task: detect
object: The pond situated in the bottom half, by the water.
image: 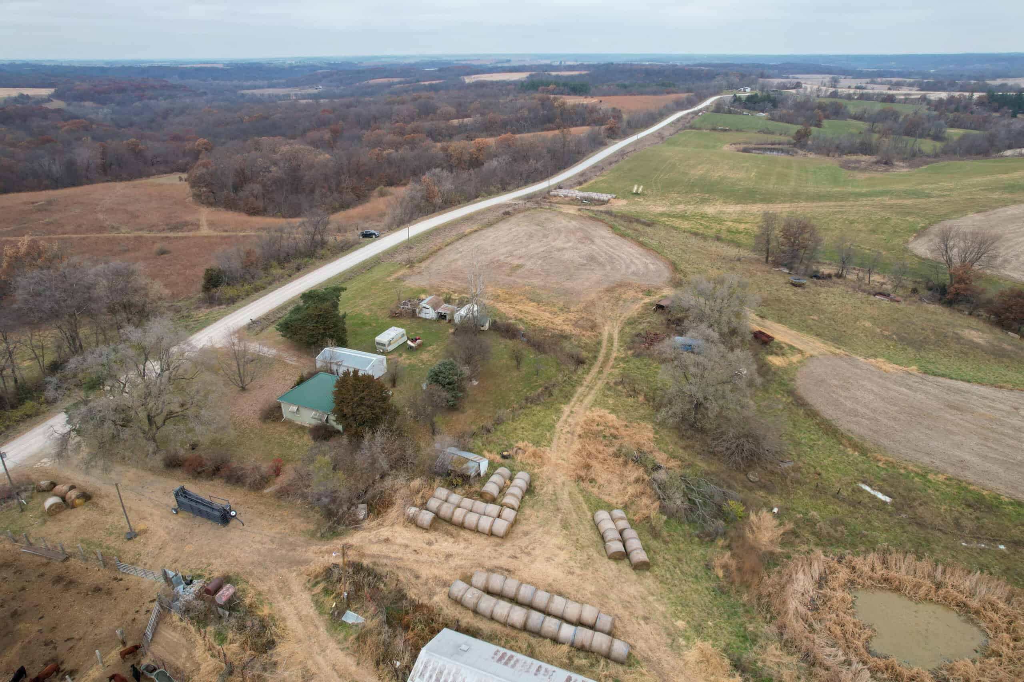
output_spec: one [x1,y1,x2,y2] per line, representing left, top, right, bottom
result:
[856,591,981,671]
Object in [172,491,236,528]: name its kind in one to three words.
trailer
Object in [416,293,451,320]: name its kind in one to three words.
shed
